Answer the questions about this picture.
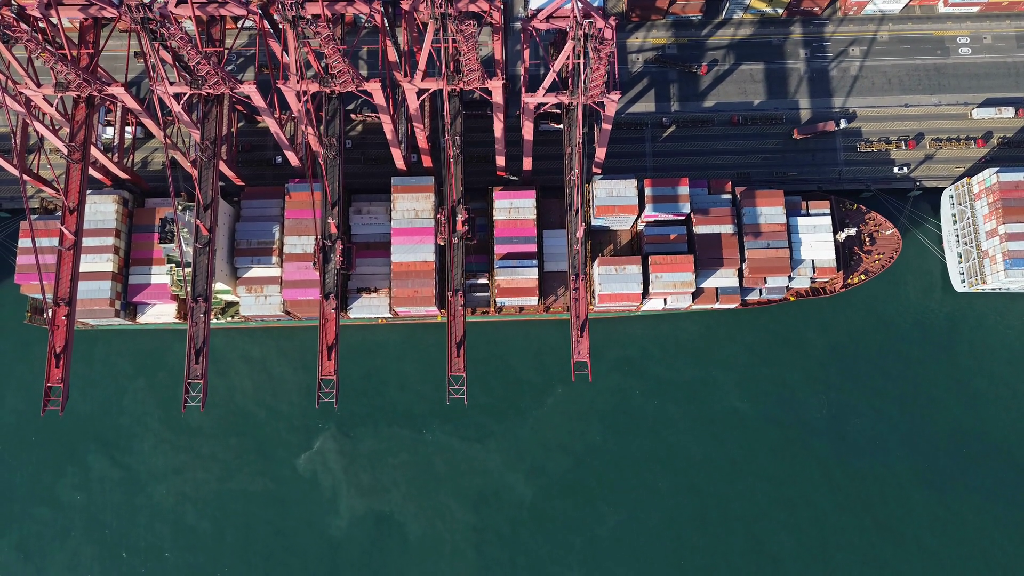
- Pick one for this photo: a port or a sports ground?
port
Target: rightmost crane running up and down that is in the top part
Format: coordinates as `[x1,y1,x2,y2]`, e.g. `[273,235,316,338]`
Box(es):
[517,0,623,381]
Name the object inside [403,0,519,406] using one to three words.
container crane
